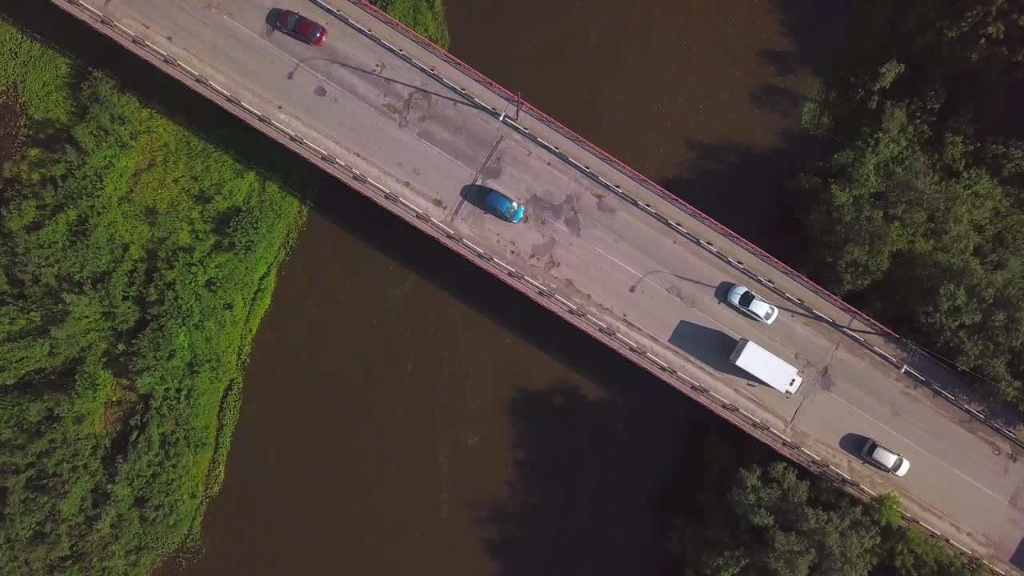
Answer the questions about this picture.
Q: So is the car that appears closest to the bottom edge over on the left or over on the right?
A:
right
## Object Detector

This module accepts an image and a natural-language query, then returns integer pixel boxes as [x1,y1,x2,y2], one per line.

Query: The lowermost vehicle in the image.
[860,440,907,476]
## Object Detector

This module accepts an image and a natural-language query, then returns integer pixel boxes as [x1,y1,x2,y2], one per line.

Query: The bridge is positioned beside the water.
[48,0,857,449]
